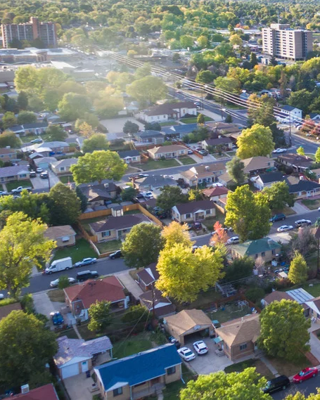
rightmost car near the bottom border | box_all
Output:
[290,368,320,386]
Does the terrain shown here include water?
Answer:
No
